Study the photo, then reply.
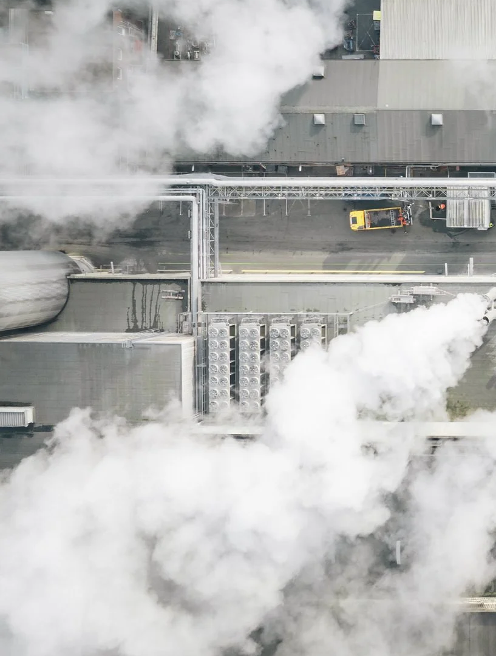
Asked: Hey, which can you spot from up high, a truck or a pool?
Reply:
truck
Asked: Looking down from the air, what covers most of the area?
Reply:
buildings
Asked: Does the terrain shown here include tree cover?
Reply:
No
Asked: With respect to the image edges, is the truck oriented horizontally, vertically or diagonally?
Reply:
horizontally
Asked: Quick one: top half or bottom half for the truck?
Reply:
top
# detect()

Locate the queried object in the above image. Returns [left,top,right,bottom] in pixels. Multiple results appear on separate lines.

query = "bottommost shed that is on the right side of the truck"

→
[447,191,491,229]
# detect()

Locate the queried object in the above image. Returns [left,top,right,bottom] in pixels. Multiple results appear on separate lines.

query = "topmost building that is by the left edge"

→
[0,10,172,168]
